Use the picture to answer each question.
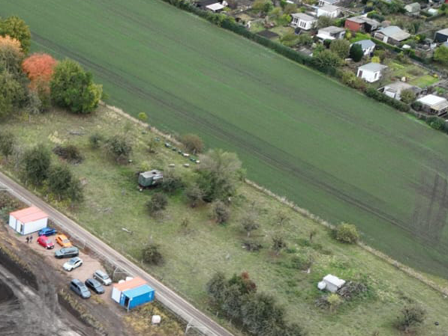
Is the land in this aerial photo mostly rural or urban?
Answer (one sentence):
It looks rural.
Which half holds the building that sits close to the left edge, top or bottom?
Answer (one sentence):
The building that sits close to the left edge is in the bottom half of the image.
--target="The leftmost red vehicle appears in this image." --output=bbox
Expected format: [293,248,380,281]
[36,234,54,249]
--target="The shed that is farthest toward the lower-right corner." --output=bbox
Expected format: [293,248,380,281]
[320,269,349,293]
